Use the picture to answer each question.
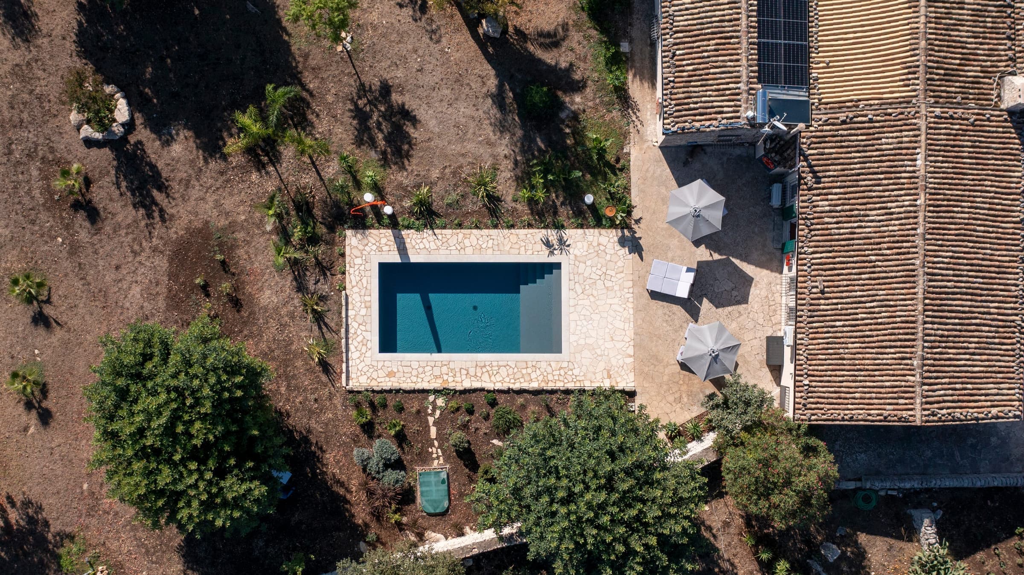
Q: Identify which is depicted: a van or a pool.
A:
pool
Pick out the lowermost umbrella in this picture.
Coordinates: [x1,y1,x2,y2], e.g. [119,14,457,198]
[681,321,741,381]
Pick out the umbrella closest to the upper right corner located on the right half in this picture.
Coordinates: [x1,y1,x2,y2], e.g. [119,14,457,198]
[666,179,725,241]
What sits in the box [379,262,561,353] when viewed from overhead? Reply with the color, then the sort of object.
blue swimming pool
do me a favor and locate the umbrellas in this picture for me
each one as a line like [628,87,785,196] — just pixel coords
[681,321,741,381]
[666,179,725,241]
